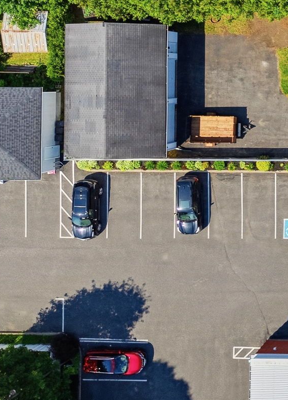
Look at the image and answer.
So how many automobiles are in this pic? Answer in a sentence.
I count 3 automobiles.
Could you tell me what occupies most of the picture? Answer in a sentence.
The bulk of the photo consists of paved ground.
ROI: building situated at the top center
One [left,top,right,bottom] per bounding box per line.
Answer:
[65,22,182,159]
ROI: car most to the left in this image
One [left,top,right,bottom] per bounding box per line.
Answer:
[68,179,102,239]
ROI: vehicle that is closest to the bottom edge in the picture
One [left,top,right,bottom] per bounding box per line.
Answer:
[83,347,147,381]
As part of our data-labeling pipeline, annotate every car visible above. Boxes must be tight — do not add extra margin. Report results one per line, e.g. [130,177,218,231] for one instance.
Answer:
[83,347,147,381]
[172,177,204,234]
[68,179,102,239]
